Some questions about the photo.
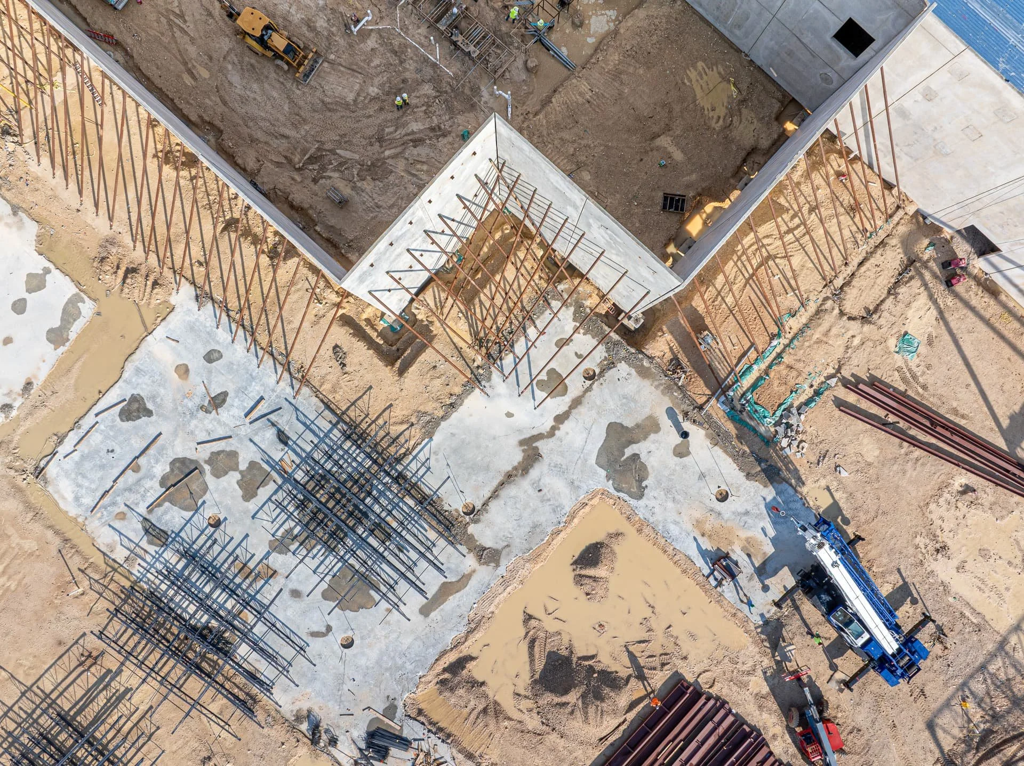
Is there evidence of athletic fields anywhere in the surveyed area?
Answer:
No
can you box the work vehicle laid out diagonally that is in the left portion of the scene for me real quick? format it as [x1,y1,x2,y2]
[222,0,324,85]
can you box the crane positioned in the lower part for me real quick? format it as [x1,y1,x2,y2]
[769,506,936,692]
